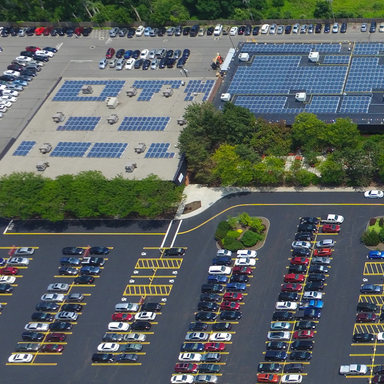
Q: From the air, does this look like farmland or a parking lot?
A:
parking lot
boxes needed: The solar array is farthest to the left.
[12,141,38,156]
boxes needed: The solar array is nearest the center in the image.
[143,143,177,158]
